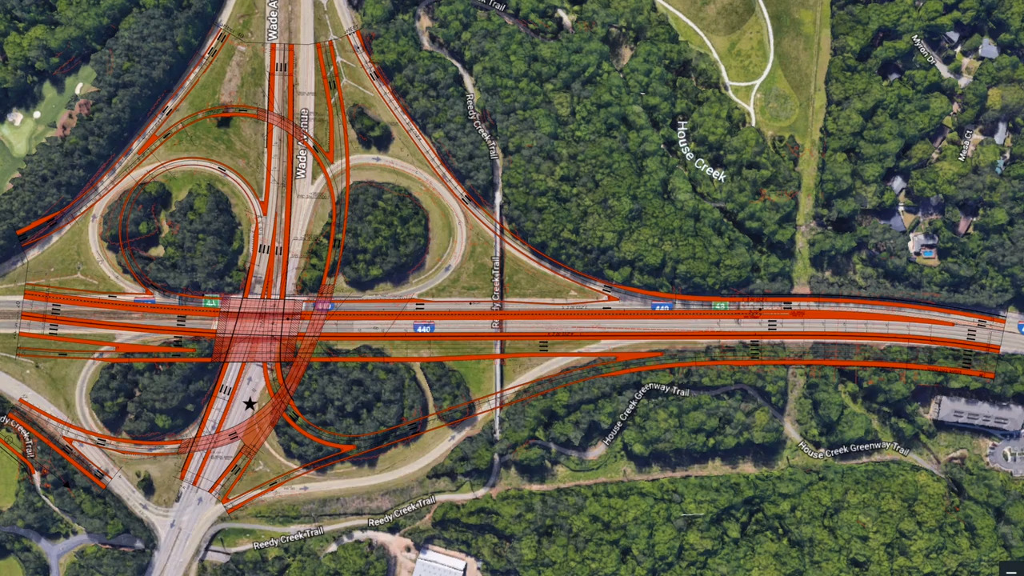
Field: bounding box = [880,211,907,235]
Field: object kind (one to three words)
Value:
house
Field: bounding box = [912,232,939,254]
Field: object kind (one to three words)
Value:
house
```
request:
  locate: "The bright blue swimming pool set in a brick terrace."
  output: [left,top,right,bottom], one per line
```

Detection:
[919,244,937,261]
